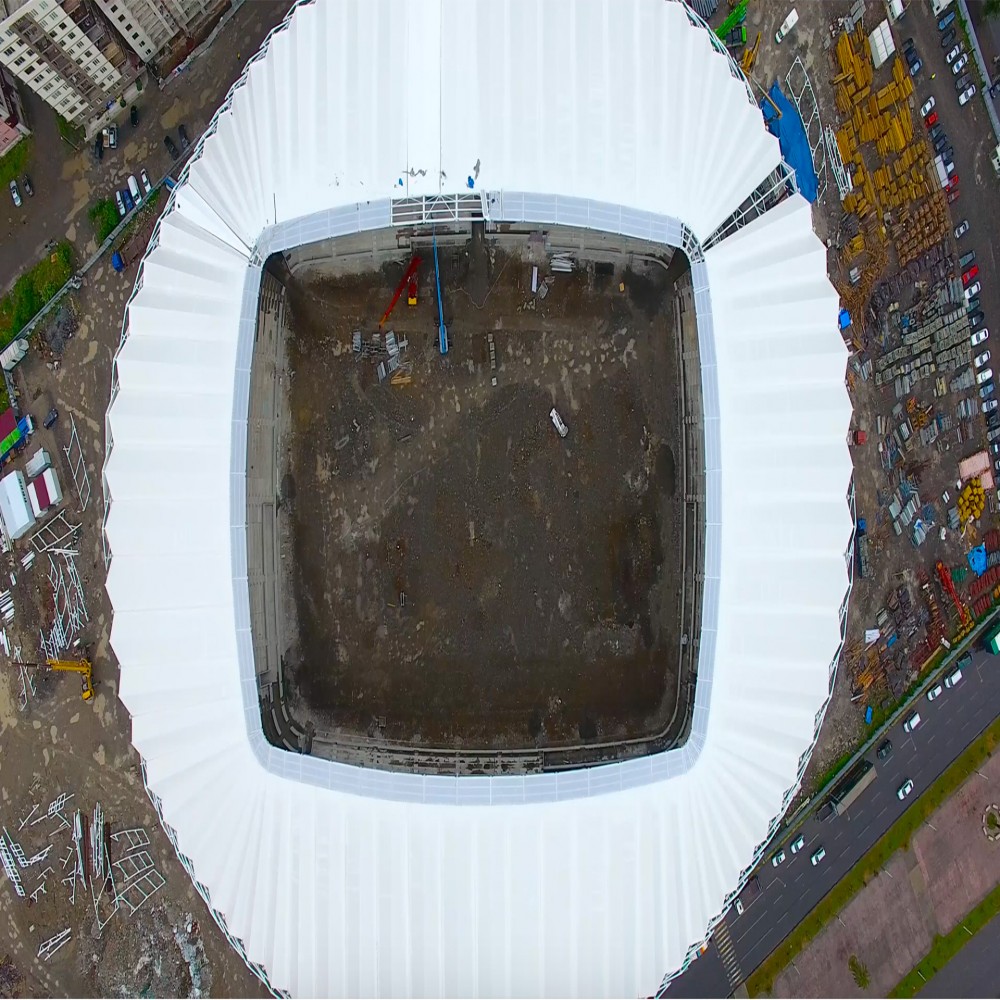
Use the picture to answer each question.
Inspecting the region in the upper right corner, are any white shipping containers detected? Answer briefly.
Yes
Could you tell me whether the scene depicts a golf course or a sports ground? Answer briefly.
sports ground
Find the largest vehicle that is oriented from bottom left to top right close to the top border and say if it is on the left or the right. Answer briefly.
right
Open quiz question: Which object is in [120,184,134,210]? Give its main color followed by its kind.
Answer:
blue vehicle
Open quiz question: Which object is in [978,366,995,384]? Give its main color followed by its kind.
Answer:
white car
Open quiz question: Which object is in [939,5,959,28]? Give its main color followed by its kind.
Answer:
blue car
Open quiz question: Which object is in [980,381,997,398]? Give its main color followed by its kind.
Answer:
blue car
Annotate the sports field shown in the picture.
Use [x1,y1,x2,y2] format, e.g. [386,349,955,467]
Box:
[269,249,691,751]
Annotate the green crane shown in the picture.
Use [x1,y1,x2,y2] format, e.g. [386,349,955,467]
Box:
[716,0,753,57]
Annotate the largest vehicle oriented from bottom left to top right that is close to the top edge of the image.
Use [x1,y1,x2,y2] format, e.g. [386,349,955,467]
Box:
[777,1,803,42]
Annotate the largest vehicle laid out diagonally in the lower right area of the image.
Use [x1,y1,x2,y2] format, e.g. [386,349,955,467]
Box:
[817,754,877,817]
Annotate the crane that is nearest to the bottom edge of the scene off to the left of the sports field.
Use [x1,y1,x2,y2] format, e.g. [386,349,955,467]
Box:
[11,658,100,708]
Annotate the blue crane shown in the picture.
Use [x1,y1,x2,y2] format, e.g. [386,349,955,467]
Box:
[431,224,455,354]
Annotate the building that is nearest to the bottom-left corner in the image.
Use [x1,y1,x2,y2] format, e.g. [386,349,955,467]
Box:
[0,470,36,539]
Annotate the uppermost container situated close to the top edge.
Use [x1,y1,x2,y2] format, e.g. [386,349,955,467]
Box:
[870,19,896,71]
